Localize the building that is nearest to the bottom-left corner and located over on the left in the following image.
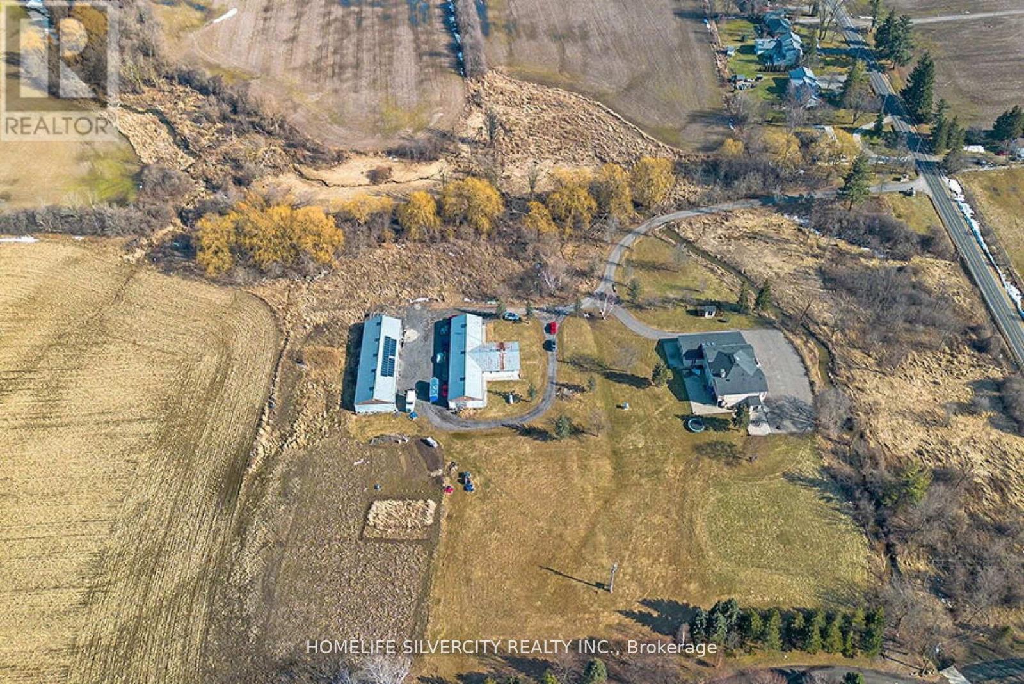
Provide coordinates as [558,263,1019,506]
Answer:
[355,315,401,411]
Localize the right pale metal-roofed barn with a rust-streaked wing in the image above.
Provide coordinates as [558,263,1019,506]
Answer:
[448,313,520,411]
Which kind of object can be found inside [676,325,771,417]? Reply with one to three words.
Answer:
house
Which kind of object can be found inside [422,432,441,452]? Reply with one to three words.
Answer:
vehicle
